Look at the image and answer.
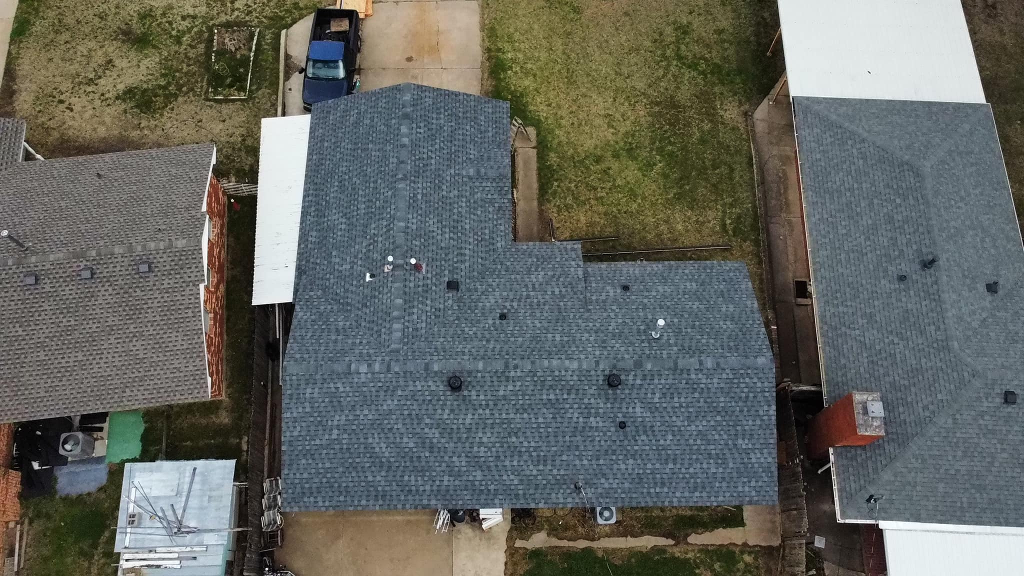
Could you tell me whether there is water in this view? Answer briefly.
No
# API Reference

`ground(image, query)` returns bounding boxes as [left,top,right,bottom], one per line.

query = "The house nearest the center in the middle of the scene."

[280,83,779,512]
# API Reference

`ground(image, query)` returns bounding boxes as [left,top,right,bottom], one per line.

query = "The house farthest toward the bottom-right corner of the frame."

[790,95,1024,533]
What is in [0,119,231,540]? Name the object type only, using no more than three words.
house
